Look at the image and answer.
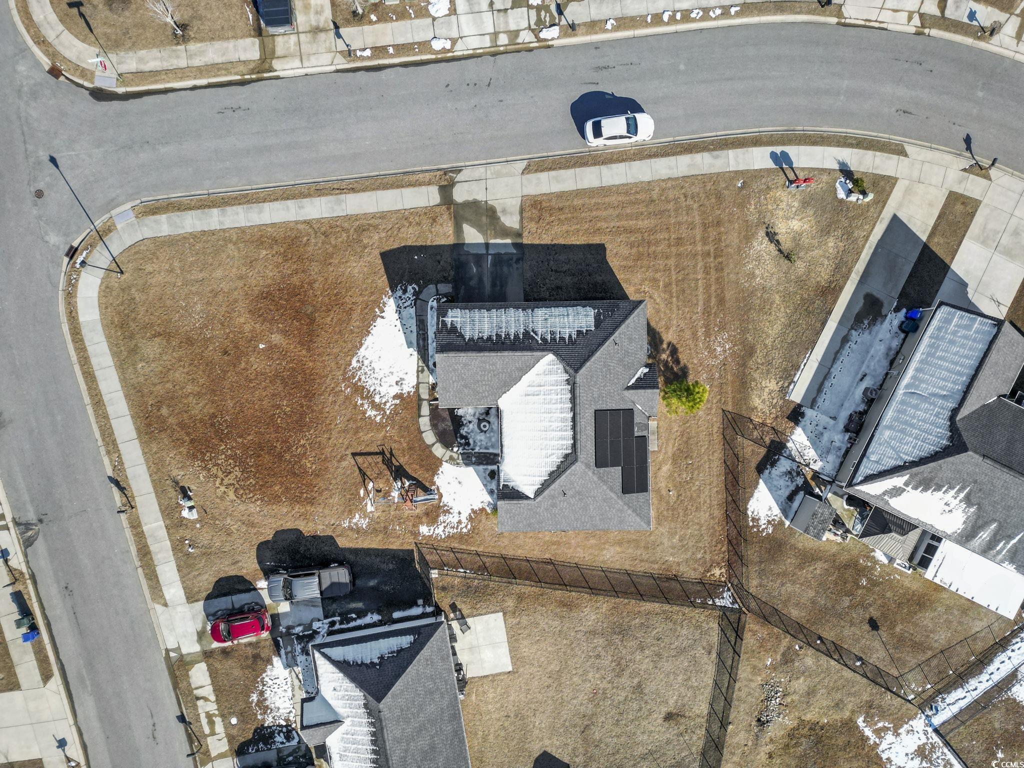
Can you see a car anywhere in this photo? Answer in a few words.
Yes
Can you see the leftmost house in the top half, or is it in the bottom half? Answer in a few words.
bottom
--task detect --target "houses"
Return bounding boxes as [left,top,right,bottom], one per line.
[434,299,661,533]
[833,301,1024,580]
[300,613,472,768]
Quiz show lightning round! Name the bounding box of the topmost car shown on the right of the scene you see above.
[584,110,653,149]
